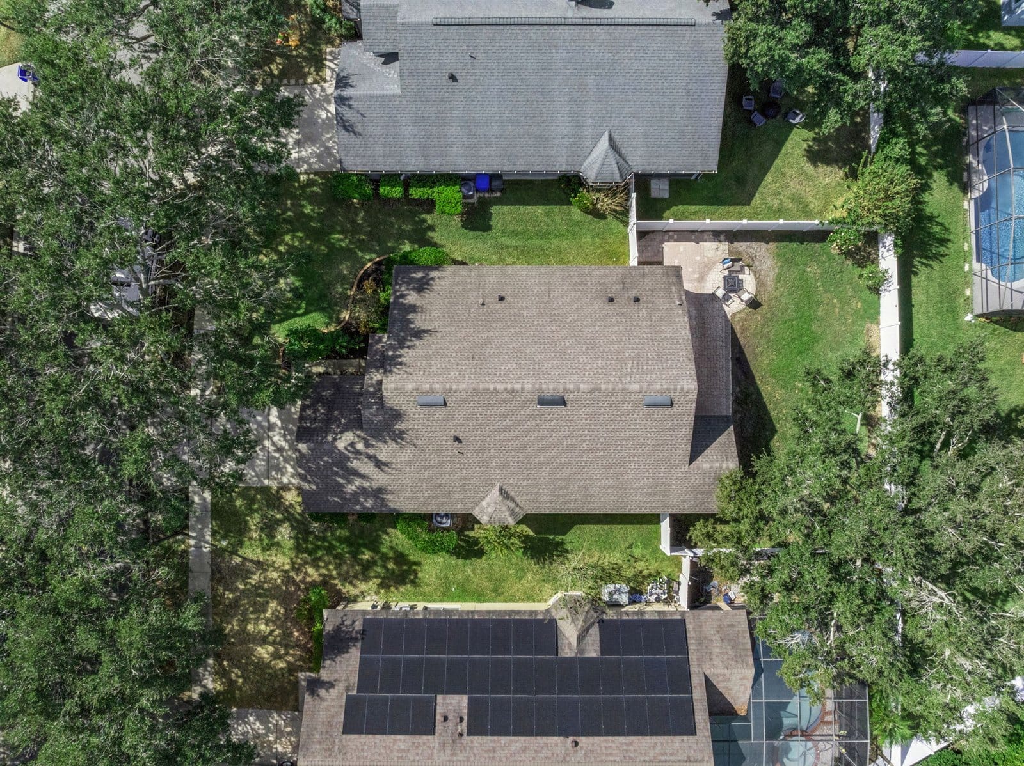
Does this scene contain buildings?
Yes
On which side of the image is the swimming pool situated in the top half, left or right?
right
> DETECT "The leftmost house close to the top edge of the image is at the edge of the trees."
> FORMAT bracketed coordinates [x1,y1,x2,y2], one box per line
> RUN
[335,0,732,192]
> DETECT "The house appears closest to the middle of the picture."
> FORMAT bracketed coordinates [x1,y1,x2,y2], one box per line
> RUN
[295,267,739,525]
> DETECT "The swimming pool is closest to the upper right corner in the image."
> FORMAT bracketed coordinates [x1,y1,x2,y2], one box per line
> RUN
[973,124,1024,285]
